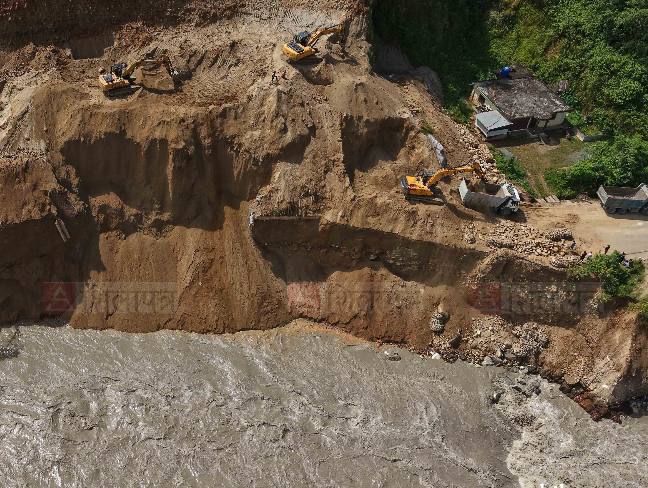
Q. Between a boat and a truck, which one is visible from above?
truck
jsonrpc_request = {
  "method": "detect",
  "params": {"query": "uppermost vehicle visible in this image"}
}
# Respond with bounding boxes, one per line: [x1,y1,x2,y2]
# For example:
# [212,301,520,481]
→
[284,22,346,65]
